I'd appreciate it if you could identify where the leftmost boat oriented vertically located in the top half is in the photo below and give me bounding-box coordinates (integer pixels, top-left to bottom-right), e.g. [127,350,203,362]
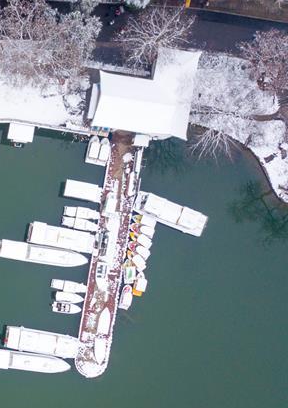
[83,136,100,164]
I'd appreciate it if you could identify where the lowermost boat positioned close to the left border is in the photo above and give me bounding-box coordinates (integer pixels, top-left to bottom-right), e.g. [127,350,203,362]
[0,347,70,370]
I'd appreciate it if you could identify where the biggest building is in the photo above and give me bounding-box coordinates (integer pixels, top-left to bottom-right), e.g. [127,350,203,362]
[93,47,202,140]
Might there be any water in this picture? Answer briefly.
Yes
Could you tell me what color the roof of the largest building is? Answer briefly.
white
